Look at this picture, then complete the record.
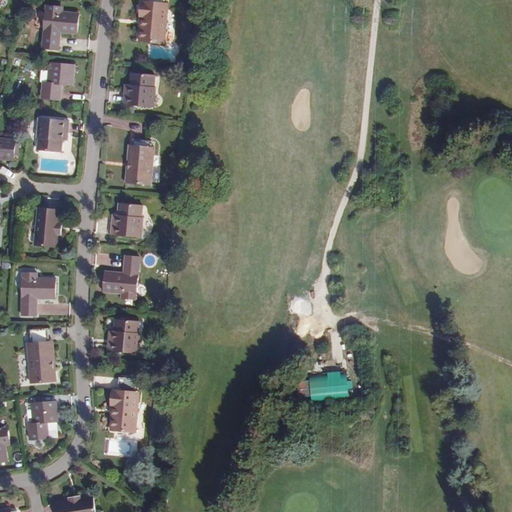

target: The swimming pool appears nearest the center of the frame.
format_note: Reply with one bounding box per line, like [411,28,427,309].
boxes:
[142,253,159,268]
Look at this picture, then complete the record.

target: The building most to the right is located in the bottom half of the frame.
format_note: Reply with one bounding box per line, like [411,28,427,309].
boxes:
[310,370,353,404]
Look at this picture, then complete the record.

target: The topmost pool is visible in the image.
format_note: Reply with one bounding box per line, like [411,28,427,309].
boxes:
[148,44,177,62]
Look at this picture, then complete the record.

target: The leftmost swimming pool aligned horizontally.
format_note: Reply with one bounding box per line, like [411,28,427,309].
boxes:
[40,158,68,173]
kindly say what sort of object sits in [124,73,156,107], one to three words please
house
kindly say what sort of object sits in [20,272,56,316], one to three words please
house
